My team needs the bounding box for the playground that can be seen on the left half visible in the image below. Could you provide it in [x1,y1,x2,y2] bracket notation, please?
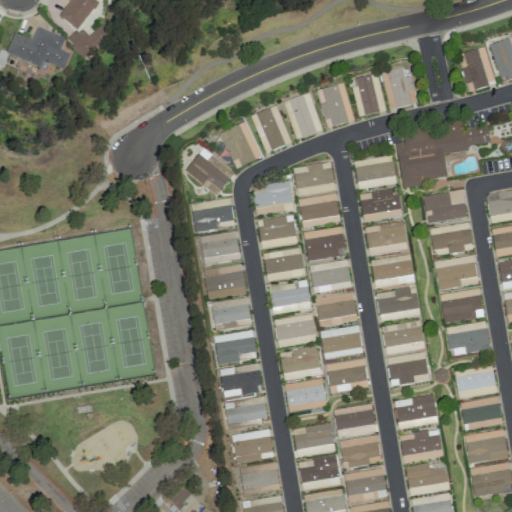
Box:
[72,420,138,472]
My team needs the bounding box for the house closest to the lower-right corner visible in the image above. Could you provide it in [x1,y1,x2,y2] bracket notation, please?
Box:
[468,464,512,498]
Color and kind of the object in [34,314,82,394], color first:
green tennis court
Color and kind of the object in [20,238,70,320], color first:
green tennis court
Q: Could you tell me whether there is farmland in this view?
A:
No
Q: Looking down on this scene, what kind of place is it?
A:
residential area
